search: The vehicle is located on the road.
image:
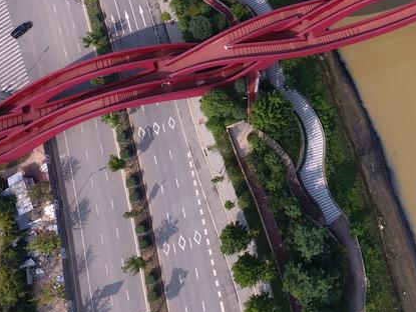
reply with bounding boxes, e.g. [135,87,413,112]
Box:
[11,20,32,39]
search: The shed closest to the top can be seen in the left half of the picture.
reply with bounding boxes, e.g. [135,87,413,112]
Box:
[7,171,31,192]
